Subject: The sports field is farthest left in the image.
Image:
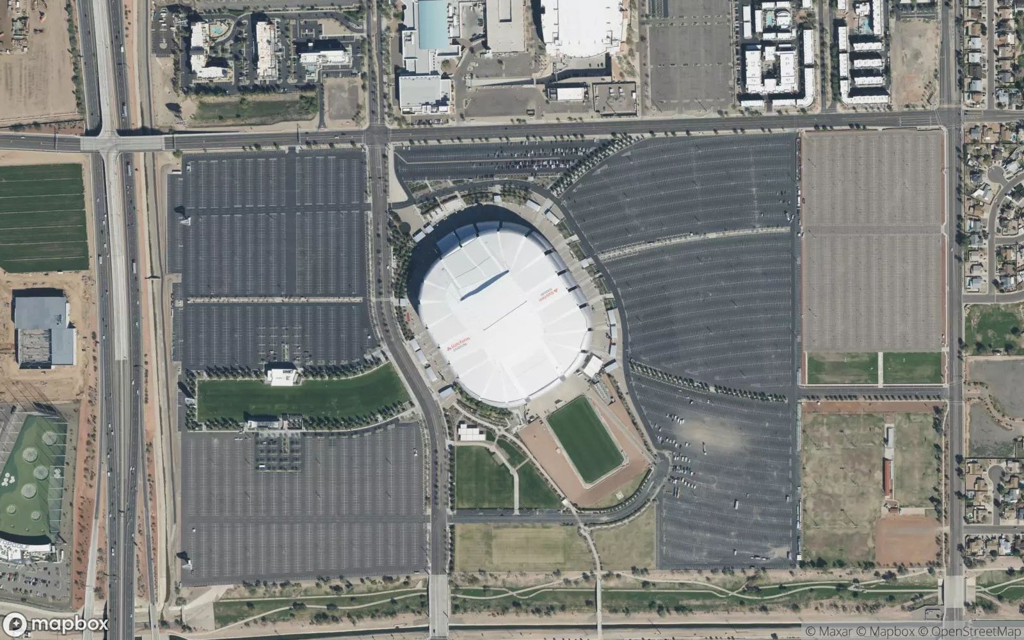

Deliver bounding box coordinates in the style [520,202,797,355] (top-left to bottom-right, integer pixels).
[547,396,623,483]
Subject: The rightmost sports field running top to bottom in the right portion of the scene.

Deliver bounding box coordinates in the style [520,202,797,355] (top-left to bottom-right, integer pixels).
[895,413,936,508]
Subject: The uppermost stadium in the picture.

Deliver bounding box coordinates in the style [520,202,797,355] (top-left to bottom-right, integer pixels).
[542,0,626,57]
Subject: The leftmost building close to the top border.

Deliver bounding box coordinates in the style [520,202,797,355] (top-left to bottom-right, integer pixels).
[191,22,230,79]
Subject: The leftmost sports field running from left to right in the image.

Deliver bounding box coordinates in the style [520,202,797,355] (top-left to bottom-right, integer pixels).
[808,352,878,384]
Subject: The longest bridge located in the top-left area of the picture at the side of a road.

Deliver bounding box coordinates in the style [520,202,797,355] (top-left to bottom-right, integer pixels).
[80,136,165,152]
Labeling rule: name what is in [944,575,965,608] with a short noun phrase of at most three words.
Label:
bridge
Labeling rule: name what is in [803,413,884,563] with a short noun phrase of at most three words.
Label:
sports field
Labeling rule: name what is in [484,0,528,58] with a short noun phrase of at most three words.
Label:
building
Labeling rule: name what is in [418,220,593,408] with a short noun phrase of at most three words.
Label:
stadium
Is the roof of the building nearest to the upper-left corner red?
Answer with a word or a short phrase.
No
